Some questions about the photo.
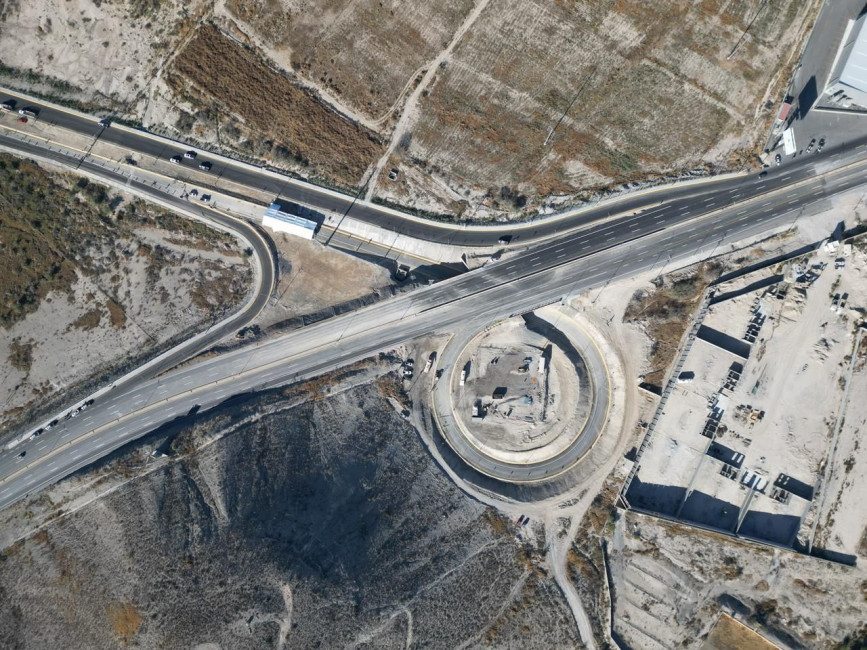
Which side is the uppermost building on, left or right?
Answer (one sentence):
The uppermost building sits on the right side.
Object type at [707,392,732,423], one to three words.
building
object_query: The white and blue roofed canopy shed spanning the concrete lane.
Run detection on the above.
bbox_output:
[257,201,315,244]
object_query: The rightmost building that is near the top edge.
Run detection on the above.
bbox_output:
[826,10,867,107]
